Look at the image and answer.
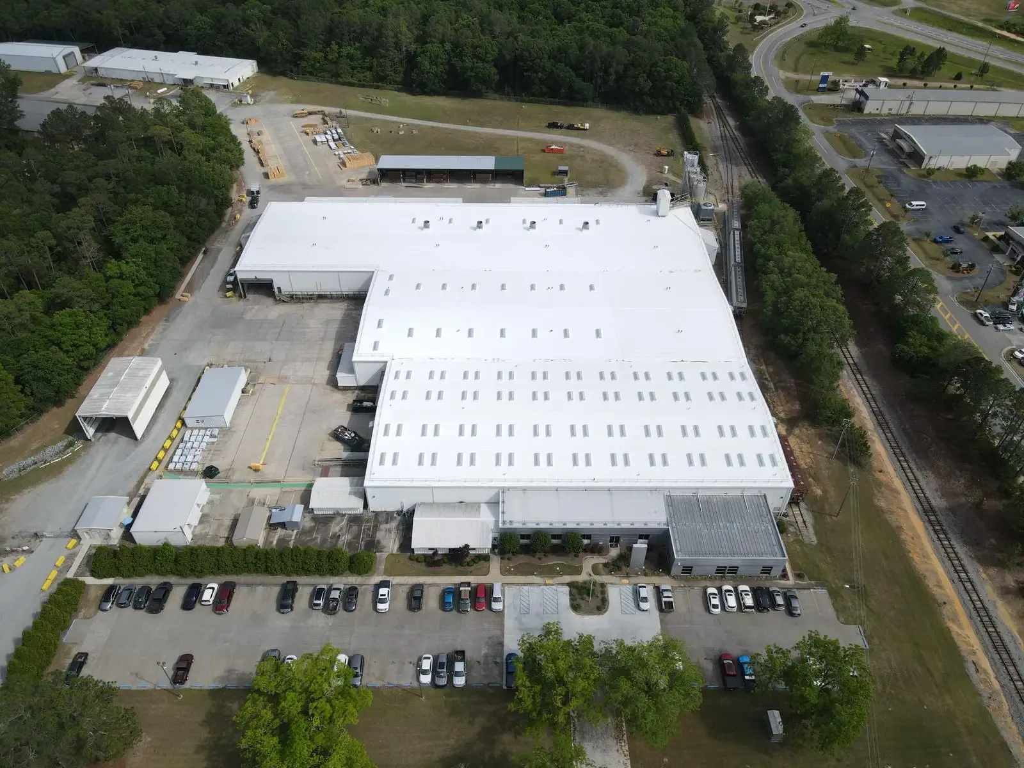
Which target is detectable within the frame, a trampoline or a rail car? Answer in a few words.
rail car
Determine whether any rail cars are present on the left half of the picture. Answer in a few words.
No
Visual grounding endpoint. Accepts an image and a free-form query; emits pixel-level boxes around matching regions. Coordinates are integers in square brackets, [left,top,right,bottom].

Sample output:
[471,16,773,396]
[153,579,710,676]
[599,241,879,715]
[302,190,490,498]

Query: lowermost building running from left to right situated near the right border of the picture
[892,125,1022,168]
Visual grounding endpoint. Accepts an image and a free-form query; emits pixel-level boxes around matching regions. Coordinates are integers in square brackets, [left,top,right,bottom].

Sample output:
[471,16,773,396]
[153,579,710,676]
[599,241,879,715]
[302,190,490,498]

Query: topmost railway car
[729,202,743,241]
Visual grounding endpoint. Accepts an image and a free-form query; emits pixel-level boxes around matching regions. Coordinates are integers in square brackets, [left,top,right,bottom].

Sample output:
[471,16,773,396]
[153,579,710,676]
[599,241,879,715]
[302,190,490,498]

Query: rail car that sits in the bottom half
[778,430,808,500]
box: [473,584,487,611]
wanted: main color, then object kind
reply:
red car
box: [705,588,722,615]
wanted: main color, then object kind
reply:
white car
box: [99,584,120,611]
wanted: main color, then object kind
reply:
gray car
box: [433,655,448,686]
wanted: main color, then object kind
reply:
gray car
